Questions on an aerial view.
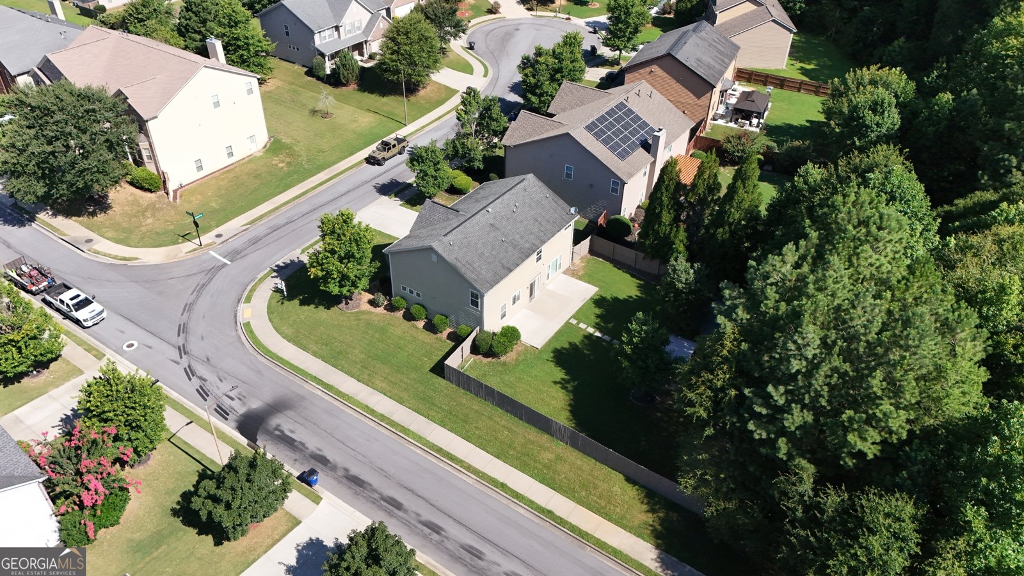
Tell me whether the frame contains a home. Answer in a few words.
Yes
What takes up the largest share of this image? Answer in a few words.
trees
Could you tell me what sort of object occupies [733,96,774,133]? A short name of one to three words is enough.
gazebo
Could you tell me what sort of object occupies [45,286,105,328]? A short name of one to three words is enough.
truck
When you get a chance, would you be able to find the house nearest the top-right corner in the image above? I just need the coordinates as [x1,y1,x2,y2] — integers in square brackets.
[703,0,798,68]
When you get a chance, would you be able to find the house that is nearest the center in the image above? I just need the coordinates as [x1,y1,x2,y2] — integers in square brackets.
[383,174,580,339]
